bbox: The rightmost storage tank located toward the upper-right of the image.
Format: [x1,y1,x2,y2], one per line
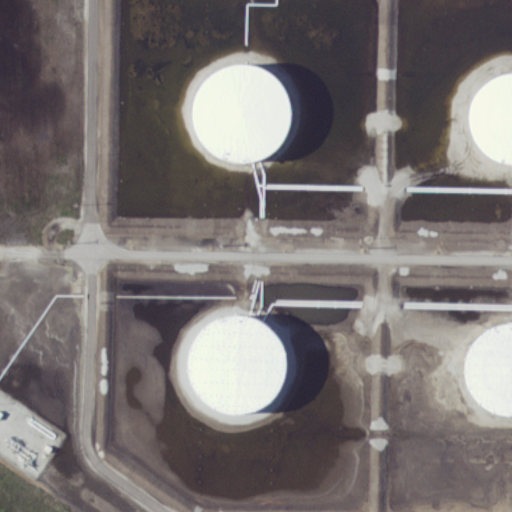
[467,73,512,168]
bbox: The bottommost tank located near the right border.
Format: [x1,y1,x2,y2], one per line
[462,321,512,420]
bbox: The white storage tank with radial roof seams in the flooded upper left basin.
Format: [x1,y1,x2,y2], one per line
[192,64,292,166]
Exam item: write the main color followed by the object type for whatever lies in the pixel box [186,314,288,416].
white storage tank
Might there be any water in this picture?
Yes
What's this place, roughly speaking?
industrial area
